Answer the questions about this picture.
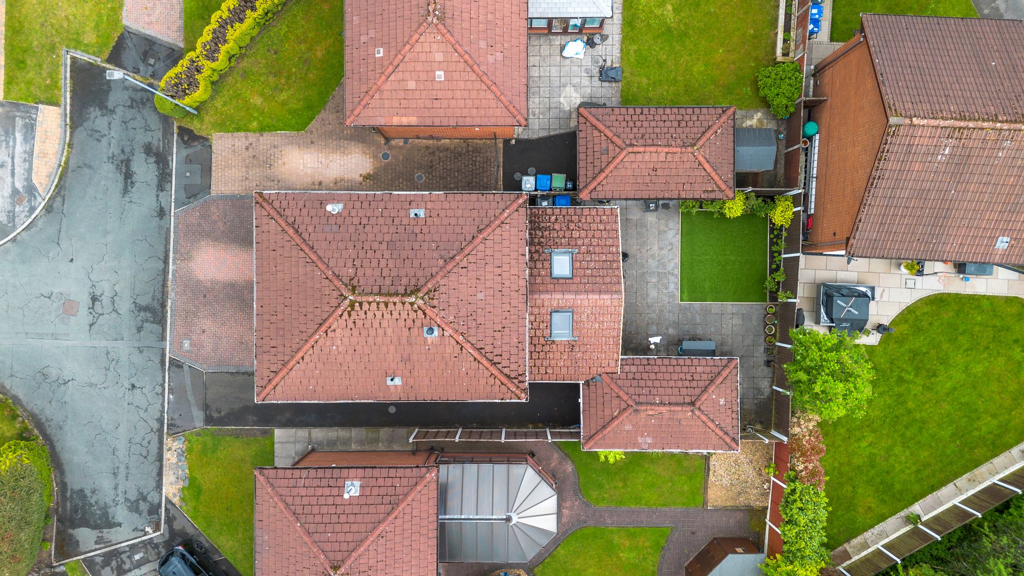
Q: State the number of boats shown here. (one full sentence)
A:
No boats are visible.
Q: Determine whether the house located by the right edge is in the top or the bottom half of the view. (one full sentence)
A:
The house located by the right edge sits in the top half of the picture.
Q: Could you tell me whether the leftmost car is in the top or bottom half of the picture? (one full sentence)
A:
Seen from above, the leftmost car lies in the bottom half of the view.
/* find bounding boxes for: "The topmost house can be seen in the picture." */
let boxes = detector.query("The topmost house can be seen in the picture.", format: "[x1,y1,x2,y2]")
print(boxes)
[343,0,528,140]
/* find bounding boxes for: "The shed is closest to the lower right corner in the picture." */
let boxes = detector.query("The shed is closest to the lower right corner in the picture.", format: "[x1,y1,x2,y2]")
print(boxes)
[685,537,766,576]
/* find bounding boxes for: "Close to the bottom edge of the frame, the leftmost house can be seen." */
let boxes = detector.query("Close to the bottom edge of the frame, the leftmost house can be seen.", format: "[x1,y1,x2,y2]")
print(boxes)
[253,447,440,576]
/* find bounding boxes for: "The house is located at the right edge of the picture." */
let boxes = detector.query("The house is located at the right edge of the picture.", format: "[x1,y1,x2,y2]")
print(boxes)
[802,13,1024,268]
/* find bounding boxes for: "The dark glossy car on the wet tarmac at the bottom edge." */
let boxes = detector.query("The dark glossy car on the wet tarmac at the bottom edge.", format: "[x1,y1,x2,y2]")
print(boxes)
[144,541,214,576]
